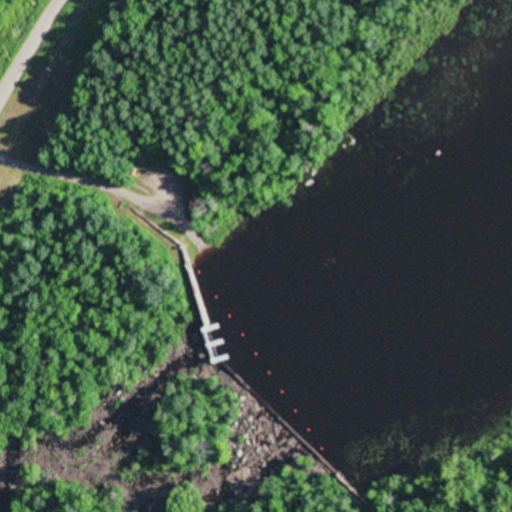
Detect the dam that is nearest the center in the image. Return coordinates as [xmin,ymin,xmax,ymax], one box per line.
[116,204,230,365]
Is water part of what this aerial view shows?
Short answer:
Yes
